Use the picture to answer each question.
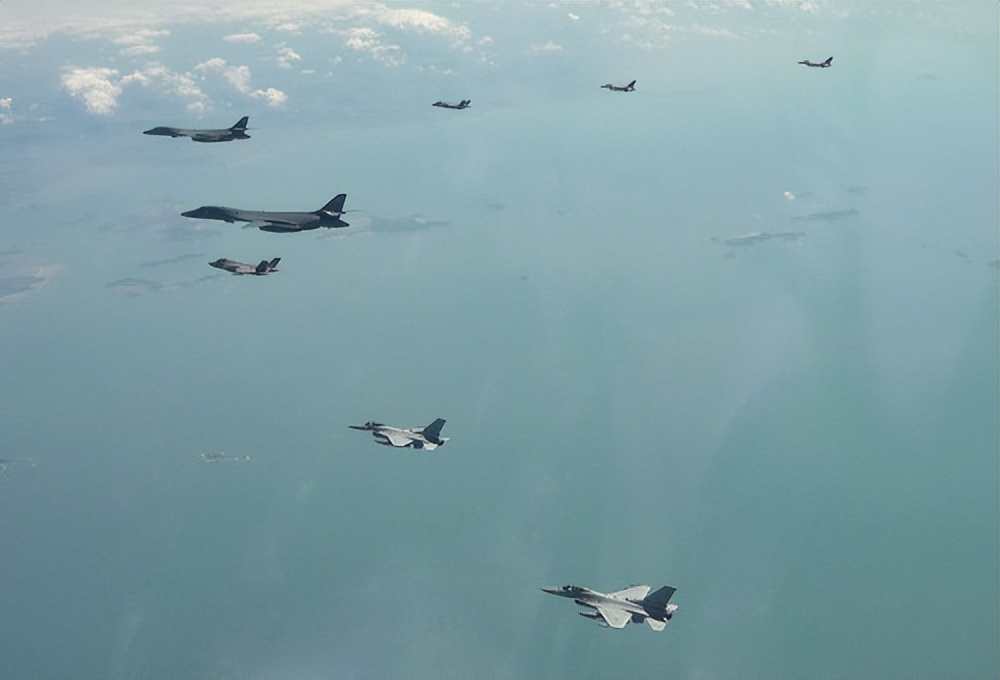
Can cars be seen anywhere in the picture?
No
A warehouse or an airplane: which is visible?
airplane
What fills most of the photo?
water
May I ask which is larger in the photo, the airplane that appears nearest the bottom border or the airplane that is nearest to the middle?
the airplane that appears nearest the bottom border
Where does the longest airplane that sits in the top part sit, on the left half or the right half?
left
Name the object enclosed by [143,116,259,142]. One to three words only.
airplane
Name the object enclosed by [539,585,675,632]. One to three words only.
airplane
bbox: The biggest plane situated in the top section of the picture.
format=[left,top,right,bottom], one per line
[182,195,357,232]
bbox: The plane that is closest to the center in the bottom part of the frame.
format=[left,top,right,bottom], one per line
[345,421,445,451]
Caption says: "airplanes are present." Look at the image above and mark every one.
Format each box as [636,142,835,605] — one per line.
[601,81,635,92]
[799,58,832,66]
[210,257,281,276]
[143,116,259,142]
[182,195,357,232]
[345,421,445,451]
[539,585,675,632]
[432,100,470,109]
